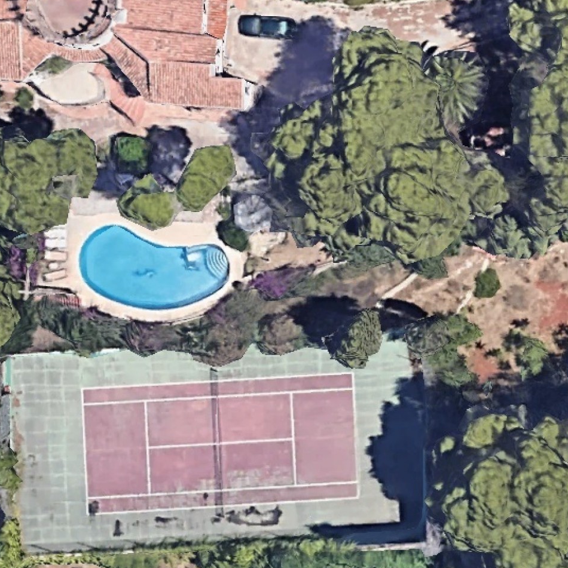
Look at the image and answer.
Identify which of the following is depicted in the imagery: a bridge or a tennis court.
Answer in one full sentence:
Of the two, only a tennis court appears.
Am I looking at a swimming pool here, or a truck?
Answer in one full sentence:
Looking from above, you can make out a swimming pool.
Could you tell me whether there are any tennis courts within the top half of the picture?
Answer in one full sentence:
No, within the top half of the picture there is no tennis court.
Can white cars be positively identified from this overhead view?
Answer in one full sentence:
No, no white car can be seen from above.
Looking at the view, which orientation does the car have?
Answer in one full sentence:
The car is oriented from side to side.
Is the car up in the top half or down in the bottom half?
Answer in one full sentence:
The car sits in the top half of the picture.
